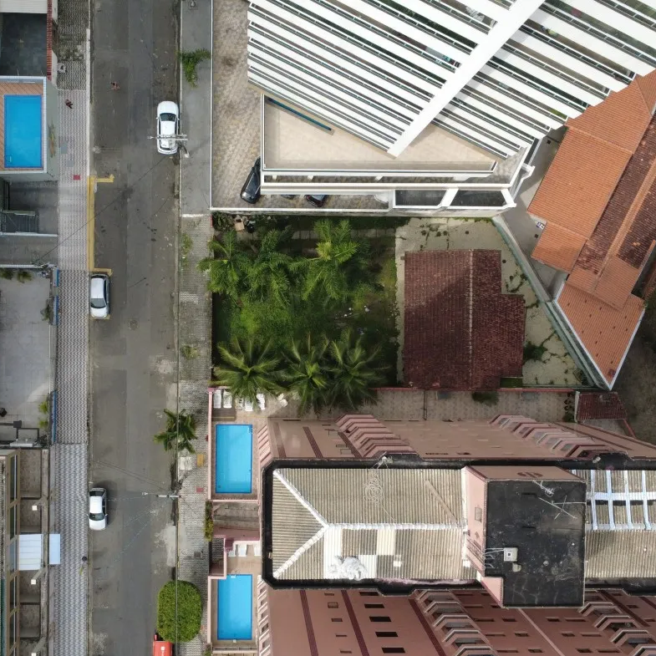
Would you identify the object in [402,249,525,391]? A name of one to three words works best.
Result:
house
